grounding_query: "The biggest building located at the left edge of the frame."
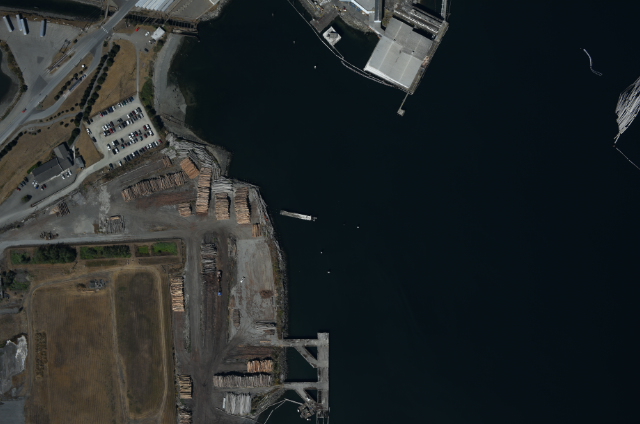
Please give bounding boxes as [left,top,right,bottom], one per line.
[31,144,73,185]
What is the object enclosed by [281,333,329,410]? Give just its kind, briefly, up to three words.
pier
